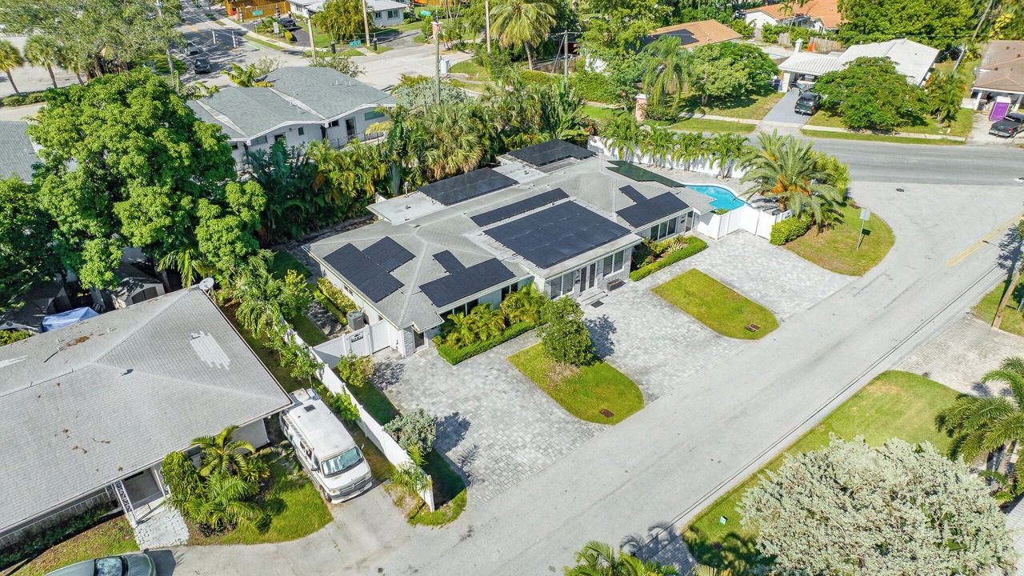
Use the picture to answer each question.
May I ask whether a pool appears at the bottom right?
No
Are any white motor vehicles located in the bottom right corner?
No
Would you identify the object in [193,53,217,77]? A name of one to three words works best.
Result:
car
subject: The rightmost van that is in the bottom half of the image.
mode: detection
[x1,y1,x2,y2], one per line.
[274,382,367,496]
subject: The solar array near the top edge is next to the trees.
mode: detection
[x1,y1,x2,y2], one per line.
[653,25,702,49]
